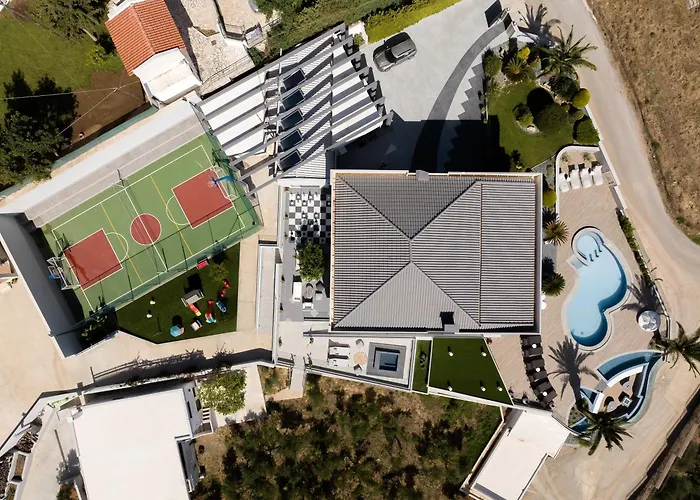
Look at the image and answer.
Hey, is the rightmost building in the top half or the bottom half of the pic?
bottom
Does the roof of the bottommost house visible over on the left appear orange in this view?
No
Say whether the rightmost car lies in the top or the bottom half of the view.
top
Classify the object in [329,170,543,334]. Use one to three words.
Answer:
house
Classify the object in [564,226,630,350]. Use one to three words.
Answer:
swimming pool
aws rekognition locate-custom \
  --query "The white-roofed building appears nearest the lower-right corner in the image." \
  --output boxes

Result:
[453,410,572,500]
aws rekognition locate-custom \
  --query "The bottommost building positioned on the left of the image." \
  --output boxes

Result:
[70,374,218,500]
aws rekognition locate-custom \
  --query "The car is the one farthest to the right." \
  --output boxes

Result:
[373,32,418,70]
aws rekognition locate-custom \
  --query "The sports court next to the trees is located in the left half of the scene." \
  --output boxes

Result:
[41,133,261,332]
